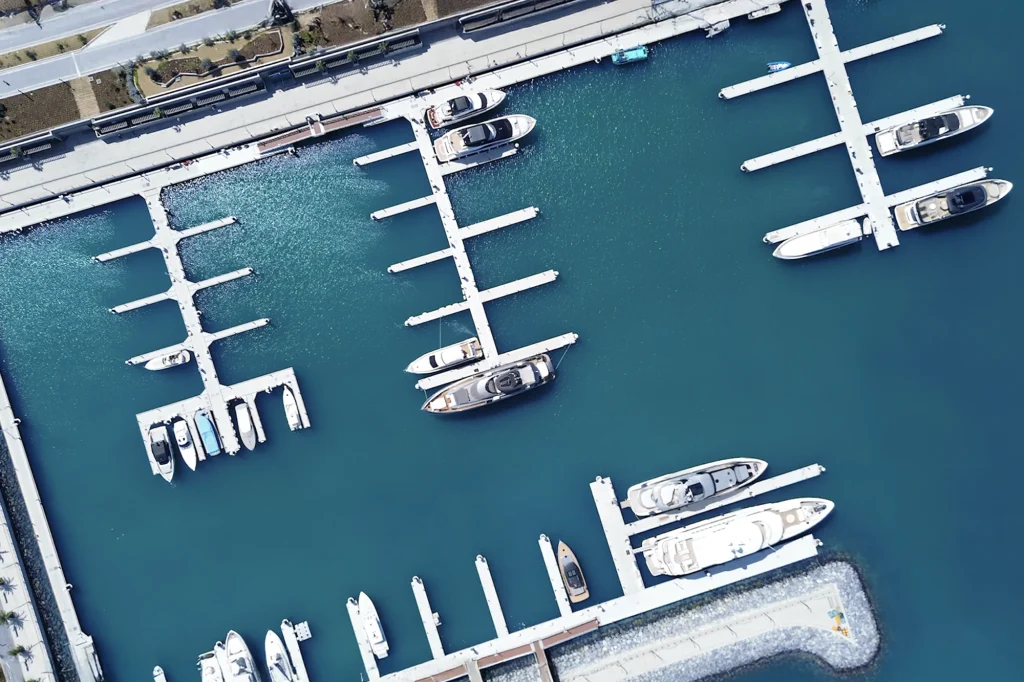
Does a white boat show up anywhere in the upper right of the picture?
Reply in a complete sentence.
Yes, a white boat appears in the upper right of the picture.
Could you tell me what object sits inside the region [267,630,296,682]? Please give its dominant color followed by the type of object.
white boat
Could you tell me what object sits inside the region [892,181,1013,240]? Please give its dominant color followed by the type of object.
white boat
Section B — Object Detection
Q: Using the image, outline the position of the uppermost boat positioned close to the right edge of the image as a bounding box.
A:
[871,107,995,157]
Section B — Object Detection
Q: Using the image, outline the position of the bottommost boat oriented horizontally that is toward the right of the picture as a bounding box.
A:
[631,499,834,580]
